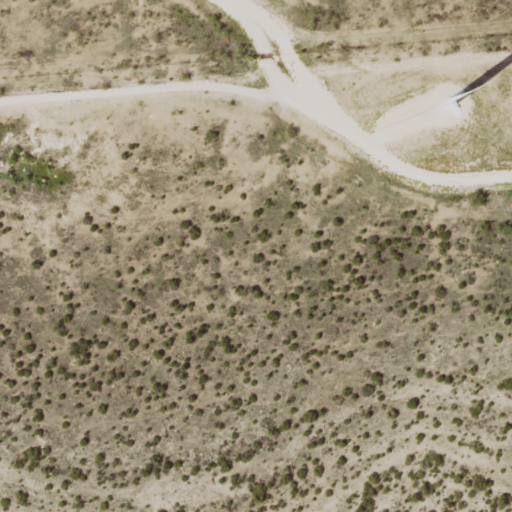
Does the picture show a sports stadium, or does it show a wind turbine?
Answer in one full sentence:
The one in the frame is a wind turbine.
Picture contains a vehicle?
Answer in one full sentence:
No, the frame has no vehicle in it.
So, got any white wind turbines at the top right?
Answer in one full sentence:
Yes, you'll find a white wind turbine at the top right.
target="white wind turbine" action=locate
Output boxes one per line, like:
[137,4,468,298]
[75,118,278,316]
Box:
[379,76,500,126]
